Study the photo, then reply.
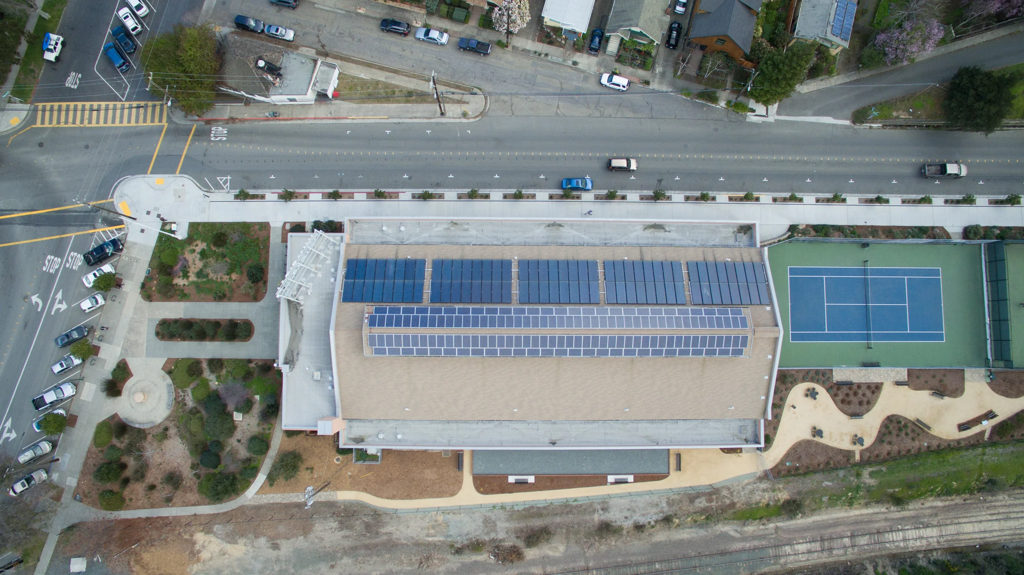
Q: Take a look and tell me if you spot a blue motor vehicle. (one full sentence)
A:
Yes, the photo shows a blue motor vehicle.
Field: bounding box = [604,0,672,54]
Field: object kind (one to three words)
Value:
house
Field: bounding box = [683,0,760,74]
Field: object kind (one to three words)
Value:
house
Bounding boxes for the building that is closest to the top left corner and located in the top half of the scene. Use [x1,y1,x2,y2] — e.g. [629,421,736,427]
[214,35,342,107]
